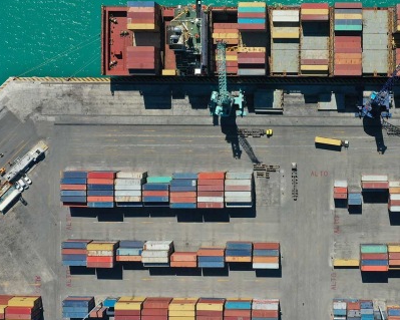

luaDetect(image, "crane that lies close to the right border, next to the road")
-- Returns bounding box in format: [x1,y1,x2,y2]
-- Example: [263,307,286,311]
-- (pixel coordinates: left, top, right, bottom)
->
[356,67,400,121]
